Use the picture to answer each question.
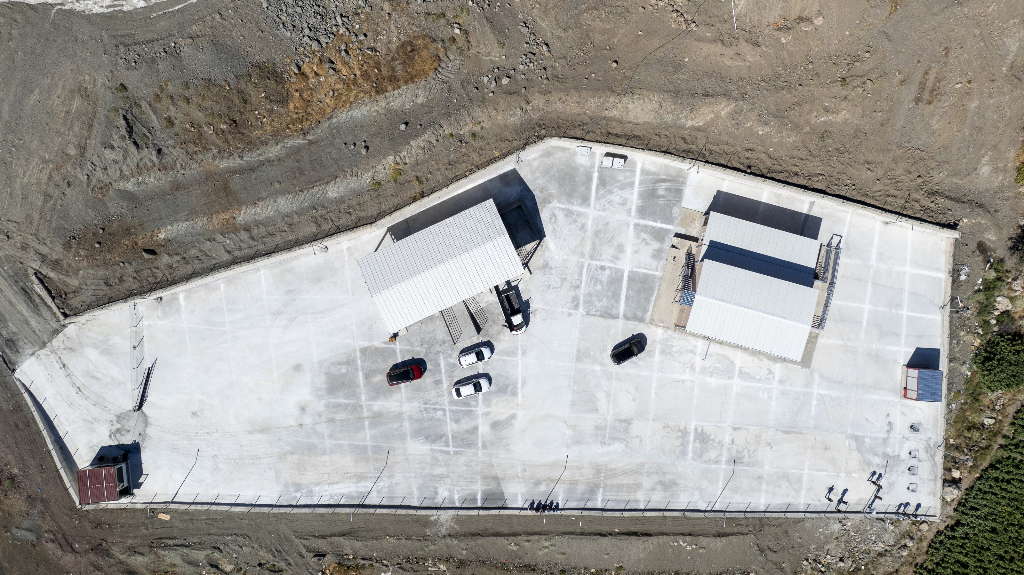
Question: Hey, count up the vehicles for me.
5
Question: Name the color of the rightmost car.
black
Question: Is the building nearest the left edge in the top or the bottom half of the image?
bottom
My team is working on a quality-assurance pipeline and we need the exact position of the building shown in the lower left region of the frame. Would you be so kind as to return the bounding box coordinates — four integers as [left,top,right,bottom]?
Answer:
[76,457,137,505]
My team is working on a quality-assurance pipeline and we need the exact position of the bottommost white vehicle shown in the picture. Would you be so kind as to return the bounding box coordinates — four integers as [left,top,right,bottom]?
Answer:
[450,376,490,400]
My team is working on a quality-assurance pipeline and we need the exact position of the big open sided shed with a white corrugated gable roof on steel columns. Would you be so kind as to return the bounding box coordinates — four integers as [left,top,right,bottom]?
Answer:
[358,198,524,334]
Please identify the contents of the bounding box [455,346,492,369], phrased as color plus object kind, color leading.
white car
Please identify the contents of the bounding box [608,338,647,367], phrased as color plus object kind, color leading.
black car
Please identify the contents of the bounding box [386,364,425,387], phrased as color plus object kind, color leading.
black car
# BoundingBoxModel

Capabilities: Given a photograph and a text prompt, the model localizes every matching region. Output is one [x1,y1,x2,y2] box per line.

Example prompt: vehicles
[450,376,490,400]
[608,338,647,367]
[497,291,527,337]
[455,346,492,369]
[386,364,425,387]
